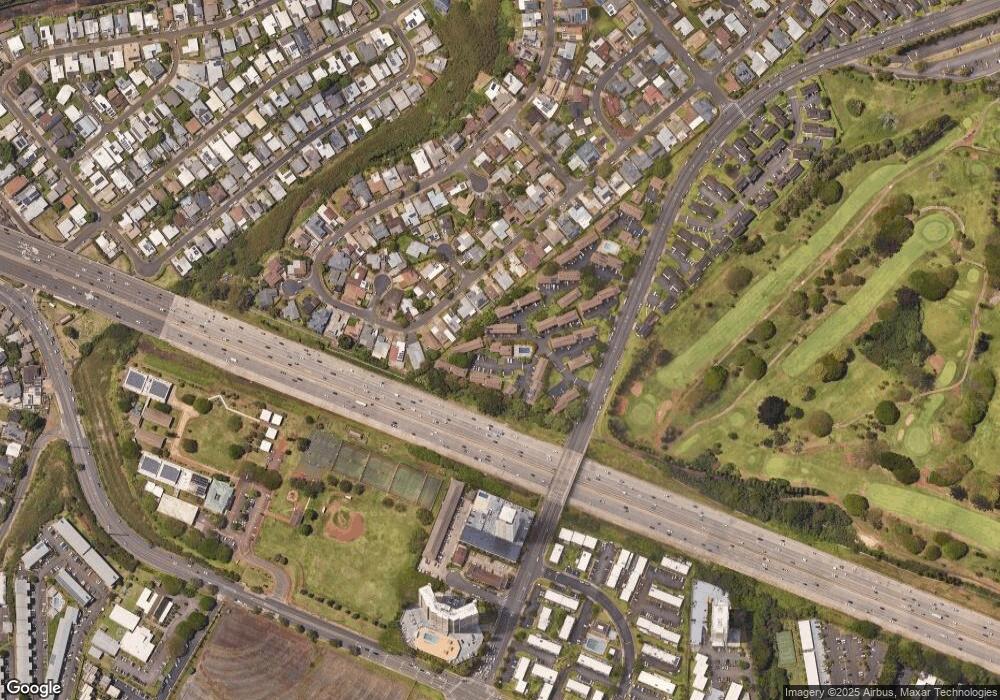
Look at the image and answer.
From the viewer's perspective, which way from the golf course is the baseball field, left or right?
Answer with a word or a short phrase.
on the left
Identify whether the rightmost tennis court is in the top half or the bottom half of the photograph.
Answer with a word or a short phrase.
bottom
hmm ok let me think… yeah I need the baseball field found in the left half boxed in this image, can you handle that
[325,498,365,542]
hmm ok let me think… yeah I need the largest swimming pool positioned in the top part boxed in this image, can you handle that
[598,238,618,256]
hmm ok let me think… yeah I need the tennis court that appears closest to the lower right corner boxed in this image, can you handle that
[776,630,797,664]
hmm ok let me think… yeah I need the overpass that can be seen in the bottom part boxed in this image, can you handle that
[538,436,590,514]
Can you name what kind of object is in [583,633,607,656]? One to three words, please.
swimming pool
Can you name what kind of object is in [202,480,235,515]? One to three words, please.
building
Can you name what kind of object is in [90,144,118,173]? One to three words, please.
house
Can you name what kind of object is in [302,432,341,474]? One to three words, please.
basketball court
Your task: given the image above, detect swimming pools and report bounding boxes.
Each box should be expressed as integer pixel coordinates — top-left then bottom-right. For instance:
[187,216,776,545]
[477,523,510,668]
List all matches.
[517,345,531,356]
[49,593,64,611]
[424,633,439,644]
[583,633,607,656]
[598,238,618,256]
